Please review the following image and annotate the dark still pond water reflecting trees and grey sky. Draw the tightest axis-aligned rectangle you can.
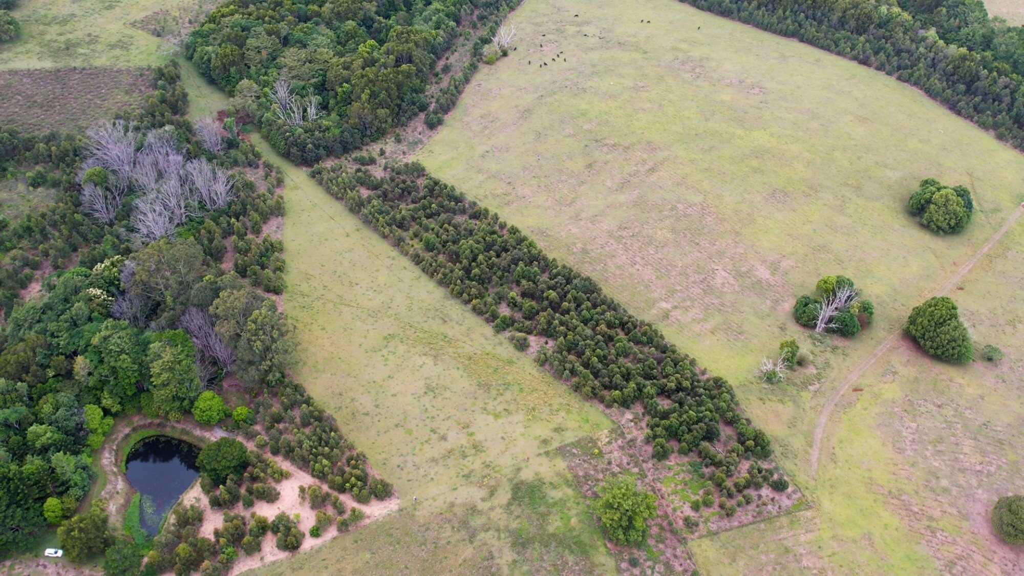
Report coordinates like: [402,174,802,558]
[124,434,204,534]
